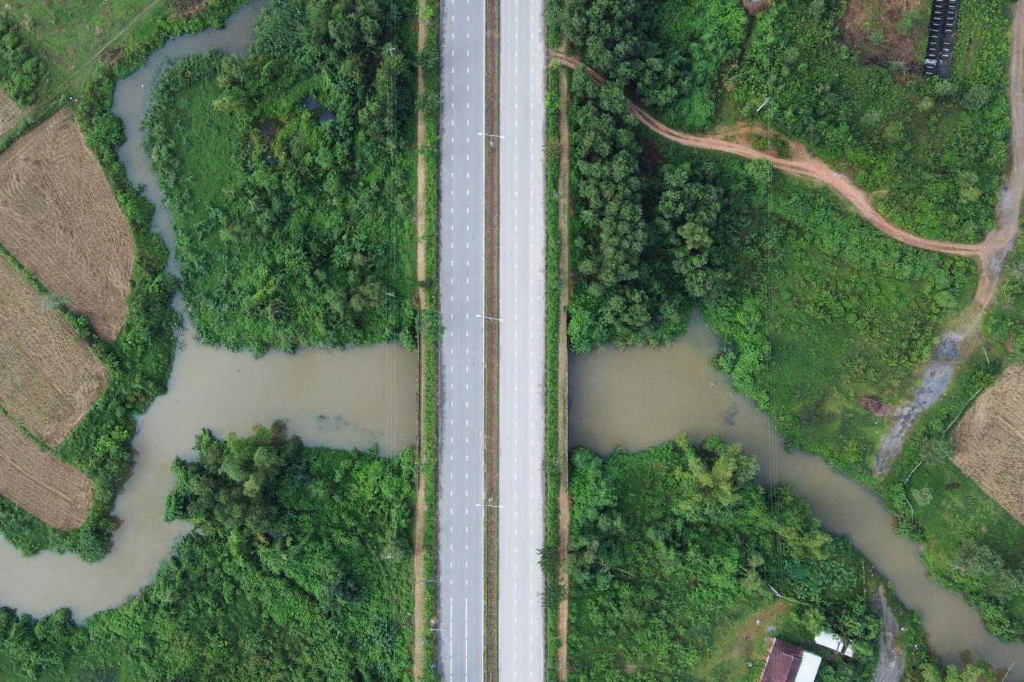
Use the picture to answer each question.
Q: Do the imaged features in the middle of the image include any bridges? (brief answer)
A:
Yes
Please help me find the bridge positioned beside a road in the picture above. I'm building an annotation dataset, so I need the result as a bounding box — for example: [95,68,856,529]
[416,303,569,495]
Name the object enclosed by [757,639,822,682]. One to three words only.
house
